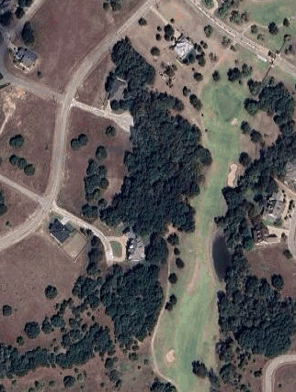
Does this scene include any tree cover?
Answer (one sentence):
Yes, tree cover can be seen from above here.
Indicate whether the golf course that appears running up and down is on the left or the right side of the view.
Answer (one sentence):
It is on the right.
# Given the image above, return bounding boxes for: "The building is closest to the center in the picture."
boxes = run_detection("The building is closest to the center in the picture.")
[127,231,144,260]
